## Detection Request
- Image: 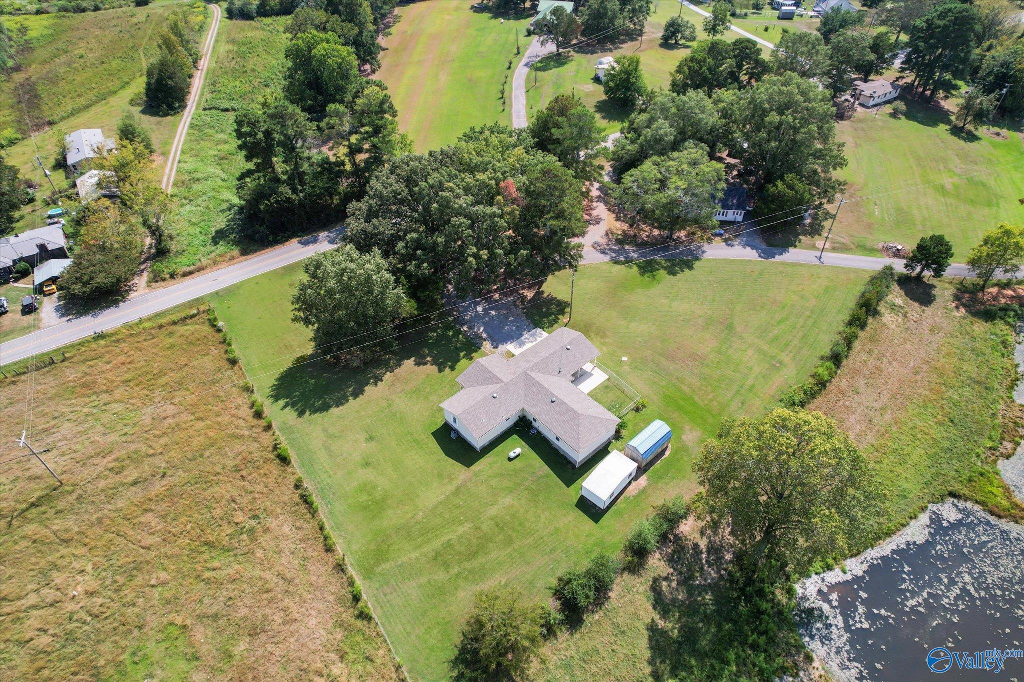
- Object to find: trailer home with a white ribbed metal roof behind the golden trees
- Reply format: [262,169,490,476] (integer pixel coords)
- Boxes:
[62,128,120,176]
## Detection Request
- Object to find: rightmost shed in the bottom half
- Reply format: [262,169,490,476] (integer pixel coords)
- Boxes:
[625,428,676,475]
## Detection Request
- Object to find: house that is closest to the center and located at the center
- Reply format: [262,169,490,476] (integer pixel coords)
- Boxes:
[439,326,622,467]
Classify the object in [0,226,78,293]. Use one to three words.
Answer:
house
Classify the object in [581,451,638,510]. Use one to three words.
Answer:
shed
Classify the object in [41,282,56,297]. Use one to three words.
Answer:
car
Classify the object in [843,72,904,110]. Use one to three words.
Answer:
house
